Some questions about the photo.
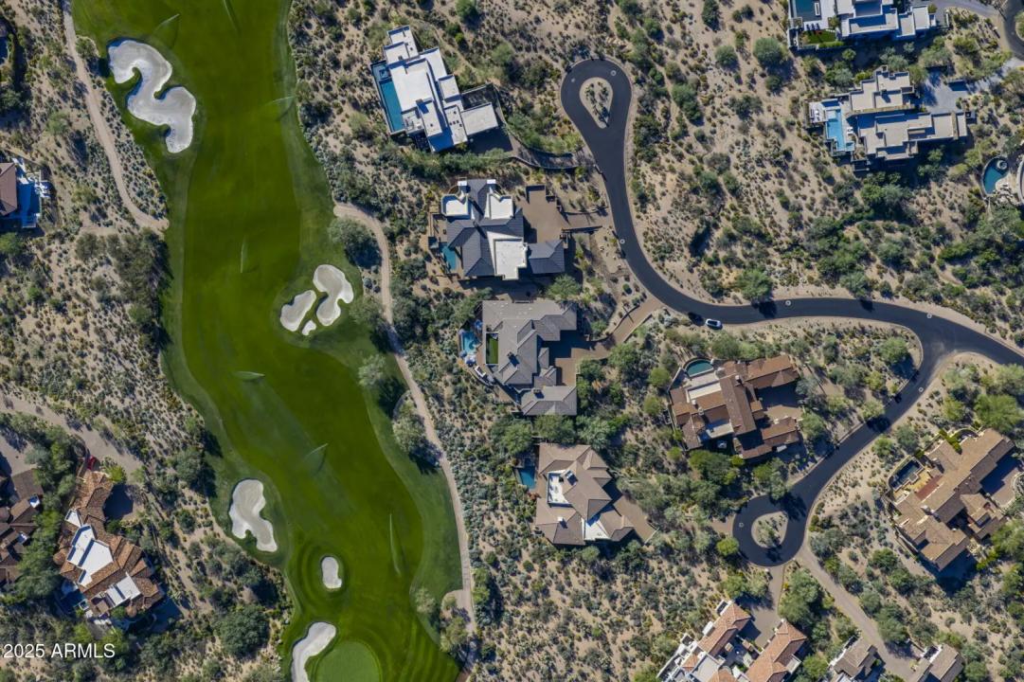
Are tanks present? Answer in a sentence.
No, this view has no tank in it.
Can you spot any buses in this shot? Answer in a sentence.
No, there isn't any bus down there.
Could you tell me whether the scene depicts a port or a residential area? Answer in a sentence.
This image shows a residential area.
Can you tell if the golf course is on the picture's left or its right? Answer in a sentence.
It is on the left.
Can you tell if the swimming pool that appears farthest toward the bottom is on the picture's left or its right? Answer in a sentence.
The swimming pool that appears farthest toward the bottom appears in the left half of the scene.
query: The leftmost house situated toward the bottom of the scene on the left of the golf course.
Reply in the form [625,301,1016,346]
[0,469,46,583]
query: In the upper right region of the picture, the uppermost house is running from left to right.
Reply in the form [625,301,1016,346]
[822,0,938,50]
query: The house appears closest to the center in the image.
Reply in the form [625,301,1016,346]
[482,300,577,416]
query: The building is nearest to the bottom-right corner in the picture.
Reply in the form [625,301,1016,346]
[901,641,965,682]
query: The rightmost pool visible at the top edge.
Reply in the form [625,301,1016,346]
[792,0,826,24]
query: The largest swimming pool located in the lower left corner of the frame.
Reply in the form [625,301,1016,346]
[58,583,89,610]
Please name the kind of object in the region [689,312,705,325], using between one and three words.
vehicle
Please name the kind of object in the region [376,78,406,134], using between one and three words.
swimming pool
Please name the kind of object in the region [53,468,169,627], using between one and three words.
house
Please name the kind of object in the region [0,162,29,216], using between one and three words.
house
